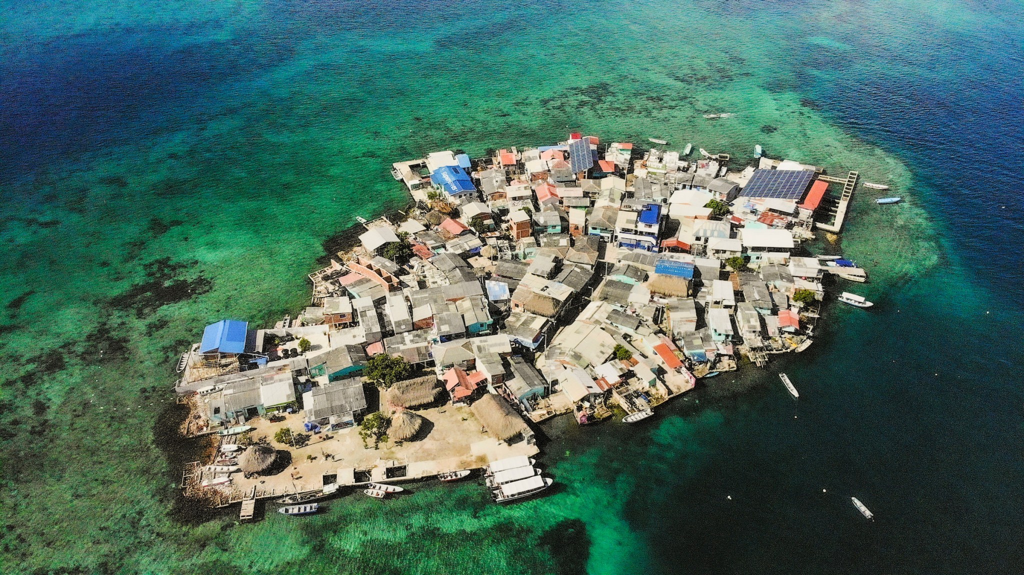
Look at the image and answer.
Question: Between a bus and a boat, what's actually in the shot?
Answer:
boat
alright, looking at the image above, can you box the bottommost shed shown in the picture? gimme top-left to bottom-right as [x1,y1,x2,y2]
[235,444,278,478]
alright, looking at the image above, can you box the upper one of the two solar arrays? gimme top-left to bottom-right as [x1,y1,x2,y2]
[569,137,593,186]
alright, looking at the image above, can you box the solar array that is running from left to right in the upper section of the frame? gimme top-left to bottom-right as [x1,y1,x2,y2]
[739,169,815,208]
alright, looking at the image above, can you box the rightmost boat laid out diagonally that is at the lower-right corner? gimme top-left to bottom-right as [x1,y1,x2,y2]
[852,495,875,519]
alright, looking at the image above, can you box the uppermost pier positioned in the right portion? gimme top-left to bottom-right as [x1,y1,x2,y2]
[815,170,858,233]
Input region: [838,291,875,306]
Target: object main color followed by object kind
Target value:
white boat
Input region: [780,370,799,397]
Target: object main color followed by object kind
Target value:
white boat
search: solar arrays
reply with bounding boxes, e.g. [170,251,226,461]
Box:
[569,137,593,186]
[739,169,815,208]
